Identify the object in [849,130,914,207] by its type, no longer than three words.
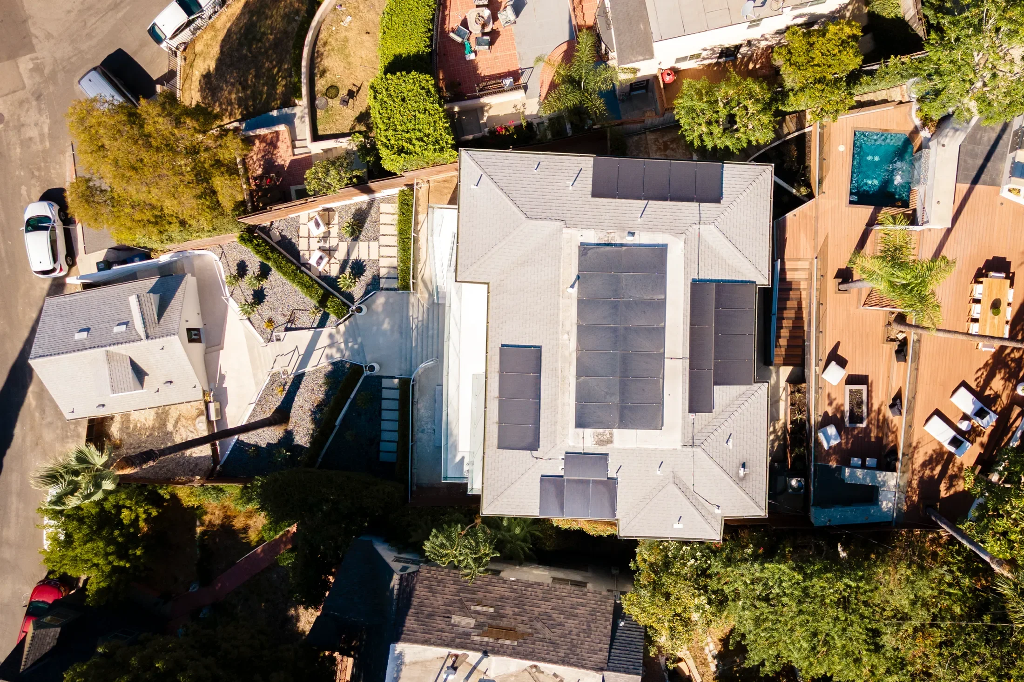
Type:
swimming pool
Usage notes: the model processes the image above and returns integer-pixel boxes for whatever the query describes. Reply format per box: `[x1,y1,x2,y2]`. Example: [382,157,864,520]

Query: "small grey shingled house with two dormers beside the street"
[30,272,209,422]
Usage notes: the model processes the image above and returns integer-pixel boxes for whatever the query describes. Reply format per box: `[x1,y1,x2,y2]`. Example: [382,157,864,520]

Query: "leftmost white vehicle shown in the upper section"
[21,200,73,280]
